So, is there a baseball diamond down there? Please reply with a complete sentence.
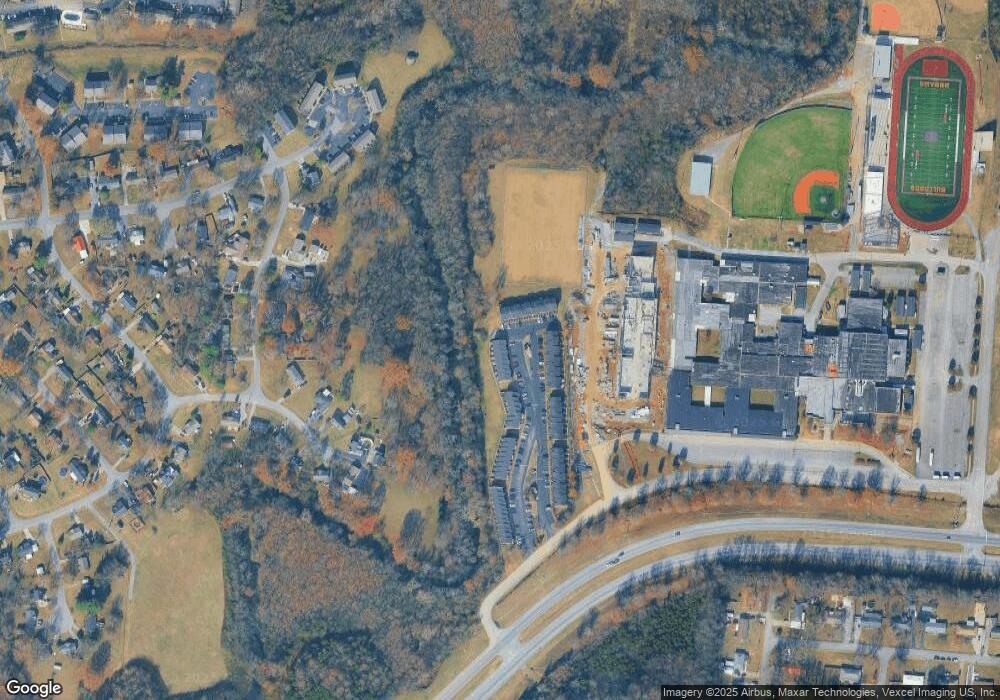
Yes, you can see a baseball diamond in this photo.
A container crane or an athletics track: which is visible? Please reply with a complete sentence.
Of the two, only an athletics track appears.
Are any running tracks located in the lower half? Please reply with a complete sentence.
No, there's no running track to be seen in the lower half.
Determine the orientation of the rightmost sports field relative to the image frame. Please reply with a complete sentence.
From this overhead view, the rightmost sports field appears to run up and down.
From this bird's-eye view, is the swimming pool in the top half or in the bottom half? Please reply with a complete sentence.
You can find the swimming pool in the top half.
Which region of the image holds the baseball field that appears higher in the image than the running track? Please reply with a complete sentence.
The baseball field that appears higher in the image than the running track sits in the top right section of the image.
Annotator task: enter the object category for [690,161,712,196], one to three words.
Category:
barn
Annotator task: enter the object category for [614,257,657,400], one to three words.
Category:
building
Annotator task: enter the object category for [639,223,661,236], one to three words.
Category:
shed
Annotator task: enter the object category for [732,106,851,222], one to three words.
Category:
baseball field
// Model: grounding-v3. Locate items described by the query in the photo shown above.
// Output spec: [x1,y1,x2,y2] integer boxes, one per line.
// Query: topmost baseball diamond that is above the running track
[872,3,900,31]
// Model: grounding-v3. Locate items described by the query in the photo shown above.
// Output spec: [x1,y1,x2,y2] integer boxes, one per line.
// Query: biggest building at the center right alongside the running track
[666,259,908,438]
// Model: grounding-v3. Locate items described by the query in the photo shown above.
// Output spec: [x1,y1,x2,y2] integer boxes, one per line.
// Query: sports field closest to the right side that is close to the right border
[895,56,968,223]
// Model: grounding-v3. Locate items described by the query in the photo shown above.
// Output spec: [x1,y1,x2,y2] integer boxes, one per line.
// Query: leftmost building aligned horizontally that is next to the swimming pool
[4,11,61,31]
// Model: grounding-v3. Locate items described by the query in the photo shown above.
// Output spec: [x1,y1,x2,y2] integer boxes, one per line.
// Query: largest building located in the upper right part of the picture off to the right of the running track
[975,131,996,149]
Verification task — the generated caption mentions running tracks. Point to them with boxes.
[887,44,976,231]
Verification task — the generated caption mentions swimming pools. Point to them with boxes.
[62,10,86,29]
